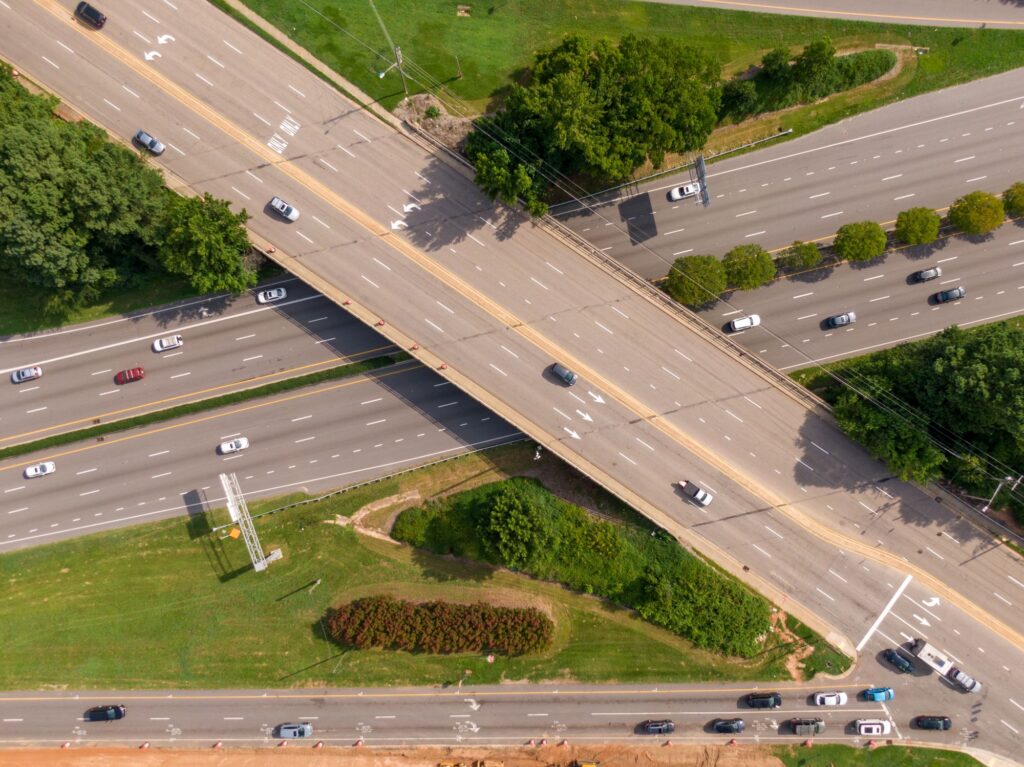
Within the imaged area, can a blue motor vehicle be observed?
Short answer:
Yes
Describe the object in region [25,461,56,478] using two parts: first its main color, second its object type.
white car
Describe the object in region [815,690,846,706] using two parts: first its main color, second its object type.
white car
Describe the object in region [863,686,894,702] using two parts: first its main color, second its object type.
blue car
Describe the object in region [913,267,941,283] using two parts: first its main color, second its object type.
gray car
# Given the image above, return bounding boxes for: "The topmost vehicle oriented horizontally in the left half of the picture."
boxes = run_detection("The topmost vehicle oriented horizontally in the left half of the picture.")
[258,287,287,304]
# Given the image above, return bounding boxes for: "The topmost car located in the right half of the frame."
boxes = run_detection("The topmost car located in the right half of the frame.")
[669,182,699,200]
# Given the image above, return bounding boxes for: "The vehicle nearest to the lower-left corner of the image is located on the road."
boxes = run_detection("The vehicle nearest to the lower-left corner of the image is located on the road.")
[89,705,123,721]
